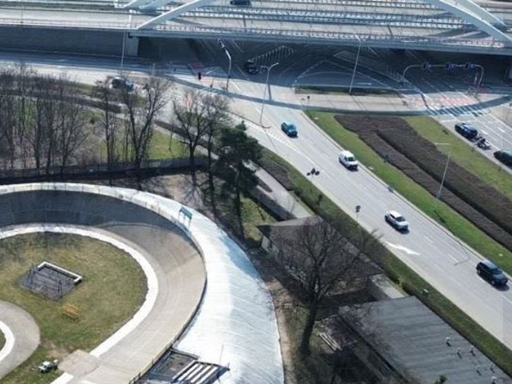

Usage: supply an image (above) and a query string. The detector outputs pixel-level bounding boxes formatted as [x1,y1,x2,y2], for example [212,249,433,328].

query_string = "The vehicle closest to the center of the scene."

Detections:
[279,117,298,133]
